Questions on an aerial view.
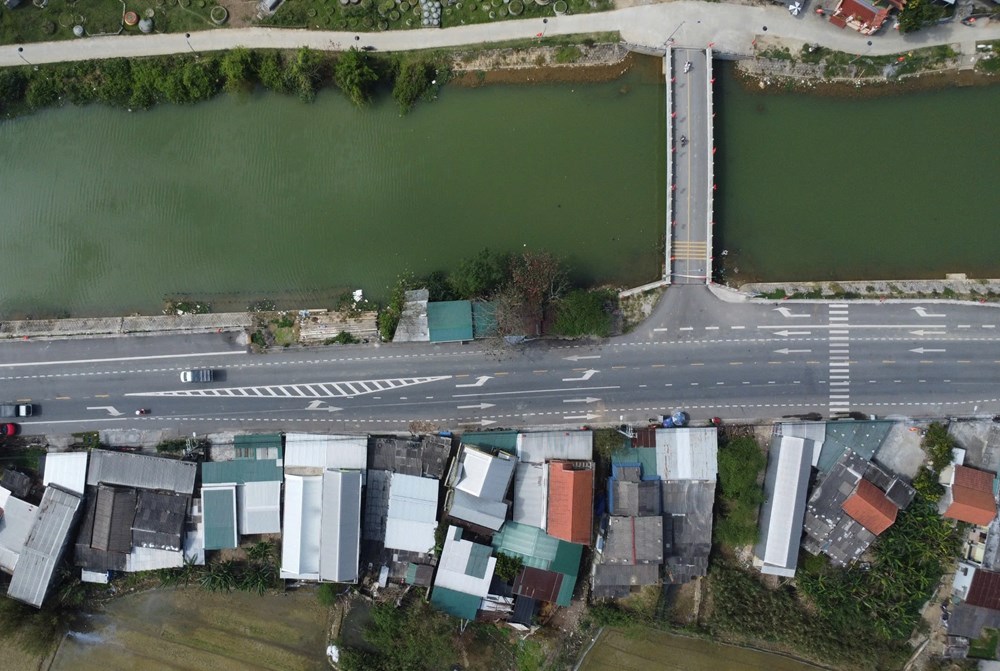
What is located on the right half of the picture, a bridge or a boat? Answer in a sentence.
Visible on the right half of the picture is a bridge.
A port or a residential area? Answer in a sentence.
This image shows a residential area.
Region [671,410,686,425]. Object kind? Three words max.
umbrella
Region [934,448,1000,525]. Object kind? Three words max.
house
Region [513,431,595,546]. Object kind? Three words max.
building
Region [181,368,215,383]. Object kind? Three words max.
vehicle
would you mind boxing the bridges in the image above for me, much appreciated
[664,47,713,287]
